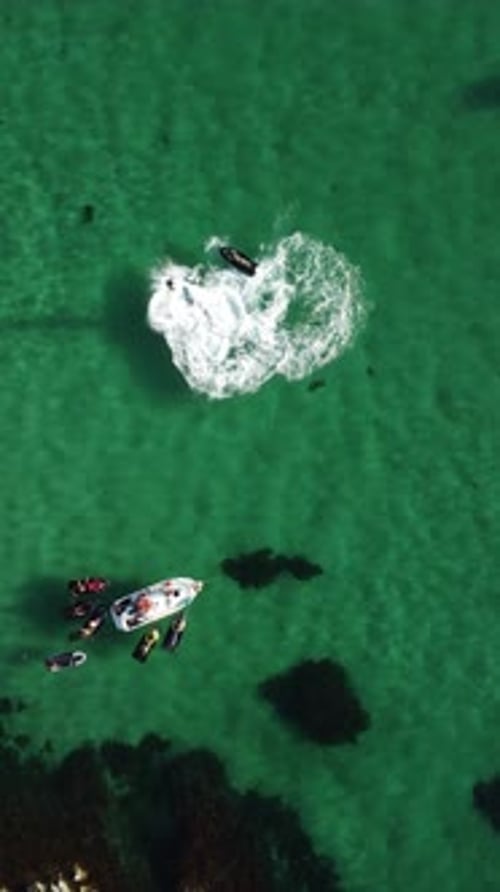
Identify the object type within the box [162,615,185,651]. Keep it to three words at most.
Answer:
vessel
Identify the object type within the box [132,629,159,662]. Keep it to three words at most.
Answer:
vessel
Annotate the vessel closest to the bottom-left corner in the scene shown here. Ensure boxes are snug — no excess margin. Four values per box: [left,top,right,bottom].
[46,652,87,670]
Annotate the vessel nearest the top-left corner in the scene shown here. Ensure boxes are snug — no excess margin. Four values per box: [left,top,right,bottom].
[220,248,258,278]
